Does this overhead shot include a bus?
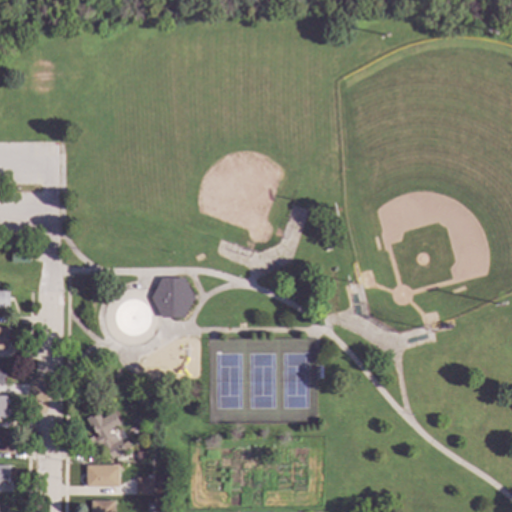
No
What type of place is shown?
sports ground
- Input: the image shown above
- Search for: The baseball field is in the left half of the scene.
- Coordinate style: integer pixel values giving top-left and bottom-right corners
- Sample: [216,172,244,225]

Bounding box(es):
[69,30,337,248]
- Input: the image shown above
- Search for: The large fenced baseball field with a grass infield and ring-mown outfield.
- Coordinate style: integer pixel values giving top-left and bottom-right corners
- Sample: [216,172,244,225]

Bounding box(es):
[332,40,512,331]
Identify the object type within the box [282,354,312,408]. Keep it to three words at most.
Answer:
tennis court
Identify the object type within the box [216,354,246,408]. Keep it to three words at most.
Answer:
tennis court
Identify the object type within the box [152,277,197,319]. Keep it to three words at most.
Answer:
building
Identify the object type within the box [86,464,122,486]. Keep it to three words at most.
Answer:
house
